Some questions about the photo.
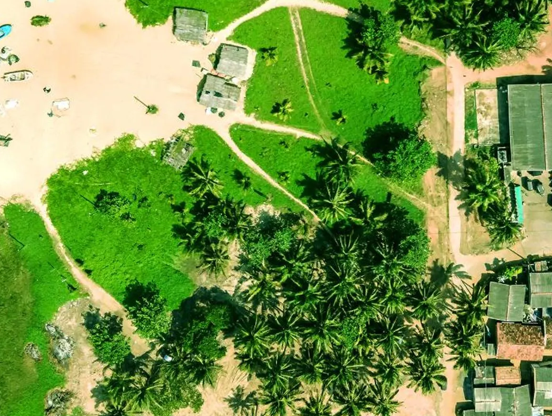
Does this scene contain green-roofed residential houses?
Yes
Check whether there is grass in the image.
Yes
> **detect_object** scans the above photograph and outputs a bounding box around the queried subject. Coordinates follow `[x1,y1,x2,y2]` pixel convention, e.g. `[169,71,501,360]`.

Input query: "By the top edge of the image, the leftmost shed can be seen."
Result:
[174,7,208,43]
